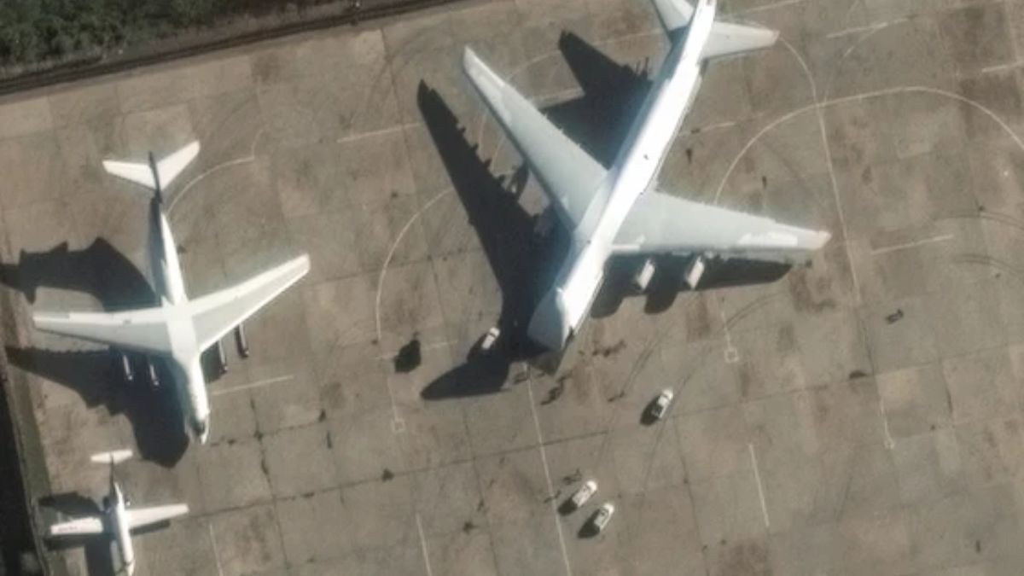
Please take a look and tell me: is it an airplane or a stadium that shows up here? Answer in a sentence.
Visible in the photo is an airplane.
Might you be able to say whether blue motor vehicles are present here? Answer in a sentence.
No, I find no blue motor vehicle anywhere in the image.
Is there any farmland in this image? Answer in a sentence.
No, there's no farmland in this view.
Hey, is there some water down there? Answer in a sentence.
No, there is no water in the image.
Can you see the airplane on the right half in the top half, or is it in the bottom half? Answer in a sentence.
It is in the top half that the airplane on the right half appears.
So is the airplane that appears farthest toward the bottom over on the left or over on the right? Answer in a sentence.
The airplane that appears farthest toward the bottom appears in the left half of the scene.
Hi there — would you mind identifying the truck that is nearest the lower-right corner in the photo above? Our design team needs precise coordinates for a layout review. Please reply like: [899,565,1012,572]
[650,390,674,418]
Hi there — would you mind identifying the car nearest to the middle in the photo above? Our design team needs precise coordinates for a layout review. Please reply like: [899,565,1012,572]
[479,327,499,350]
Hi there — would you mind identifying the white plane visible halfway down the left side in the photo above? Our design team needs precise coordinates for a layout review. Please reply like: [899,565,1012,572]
[32,141,310,444]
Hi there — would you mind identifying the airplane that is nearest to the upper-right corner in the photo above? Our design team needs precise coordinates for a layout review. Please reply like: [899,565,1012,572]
[465,0,830,374]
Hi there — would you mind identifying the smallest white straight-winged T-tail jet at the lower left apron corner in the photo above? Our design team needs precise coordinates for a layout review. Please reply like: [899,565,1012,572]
[47,453,186,576]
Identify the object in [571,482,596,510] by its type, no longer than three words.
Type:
car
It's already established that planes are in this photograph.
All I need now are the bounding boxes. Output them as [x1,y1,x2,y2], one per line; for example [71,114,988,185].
[465,0,830,374]
[47,453,186,576]
[32,141,310,444]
